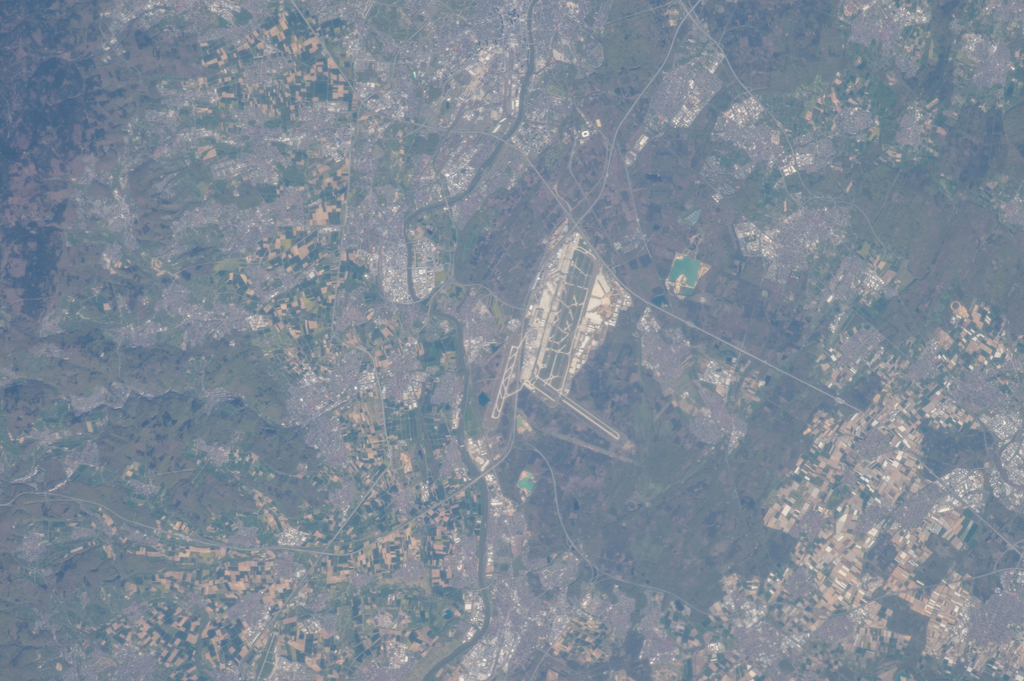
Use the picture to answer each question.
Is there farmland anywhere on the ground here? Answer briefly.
Yes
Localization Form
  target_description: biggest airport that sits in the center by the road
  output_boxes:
[484,225,633,442]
